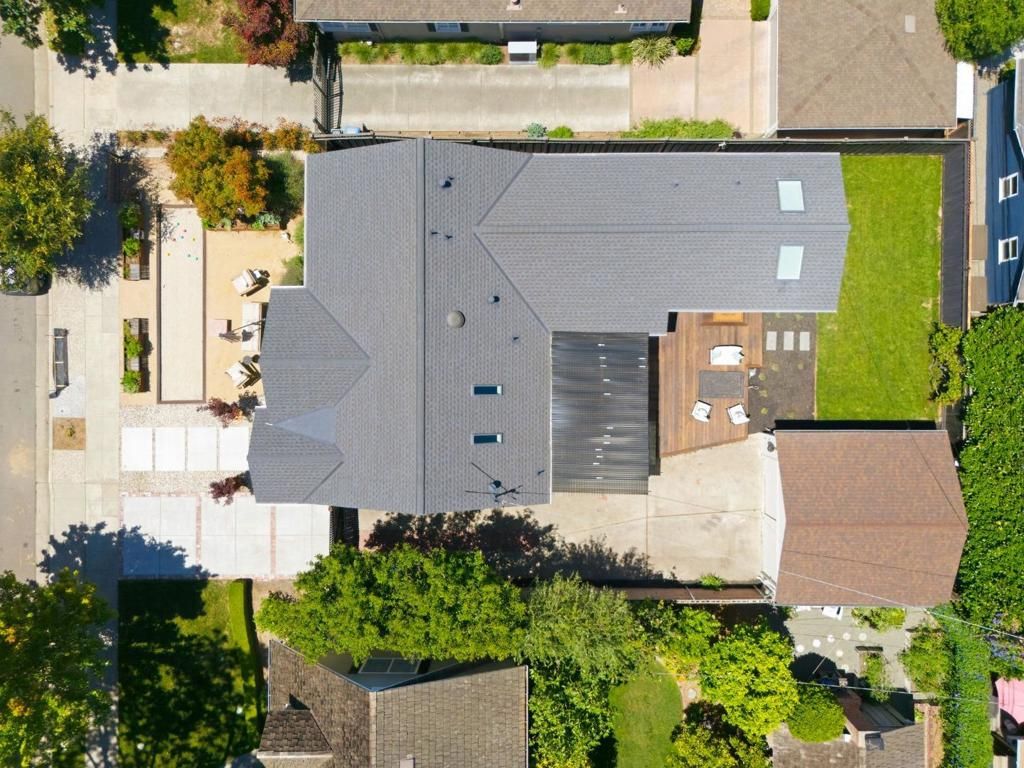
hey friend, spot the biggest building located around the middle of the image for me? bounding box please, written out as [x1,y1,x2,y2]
[247,139,850,514]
